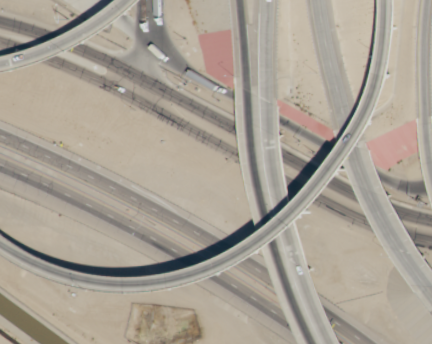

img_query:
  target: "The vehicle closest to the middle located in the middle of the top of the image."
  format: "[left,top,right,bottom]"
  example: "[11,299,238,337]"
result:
[185,68,226,94]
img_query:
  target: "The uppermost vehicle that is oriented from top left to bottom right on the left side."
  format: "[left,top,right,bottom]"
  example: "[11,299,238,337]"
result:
[150,44,170,60]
